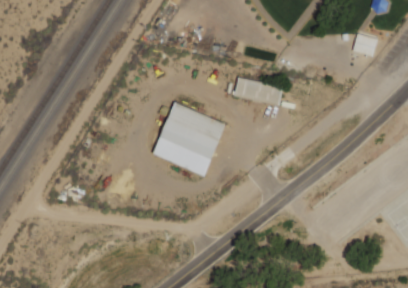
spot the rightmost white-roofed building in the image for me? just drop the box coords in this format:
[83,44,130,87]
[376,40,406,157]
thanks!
[355,34,378,56]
